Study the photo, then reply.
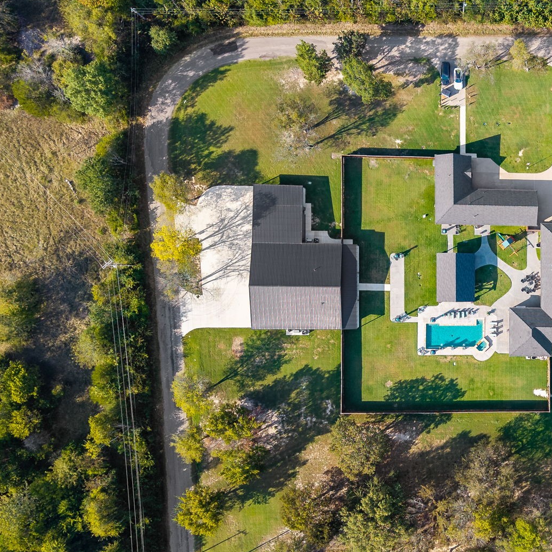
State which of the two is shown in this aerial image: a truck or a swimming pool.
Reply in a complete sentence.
Of the two, only a swimming pool appears.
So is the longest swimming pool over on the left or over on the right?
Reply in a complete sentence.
The longest swimming pool appears in the right half of the scene.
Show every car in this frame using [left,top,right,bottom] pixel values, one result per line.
[440,63,451,88]
[452,69,464,91]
